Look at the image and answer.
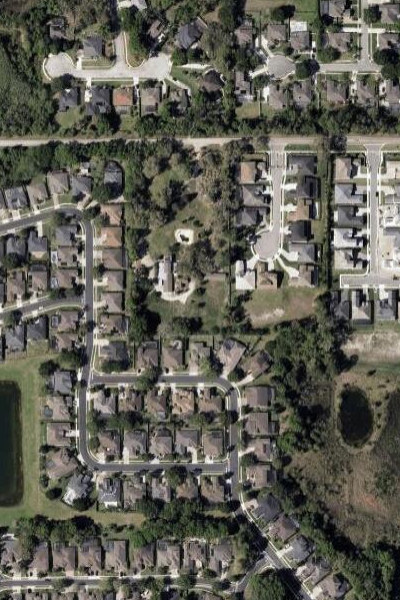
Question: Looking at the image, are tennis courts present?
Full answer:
No, the picture doesn't show any tennis court.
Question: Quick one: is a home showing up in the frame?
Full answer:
Yes, the frame does contain a home.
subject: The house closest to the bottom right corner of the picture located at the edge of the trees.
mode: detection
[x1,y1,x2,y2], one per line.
[317,574,347,600]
